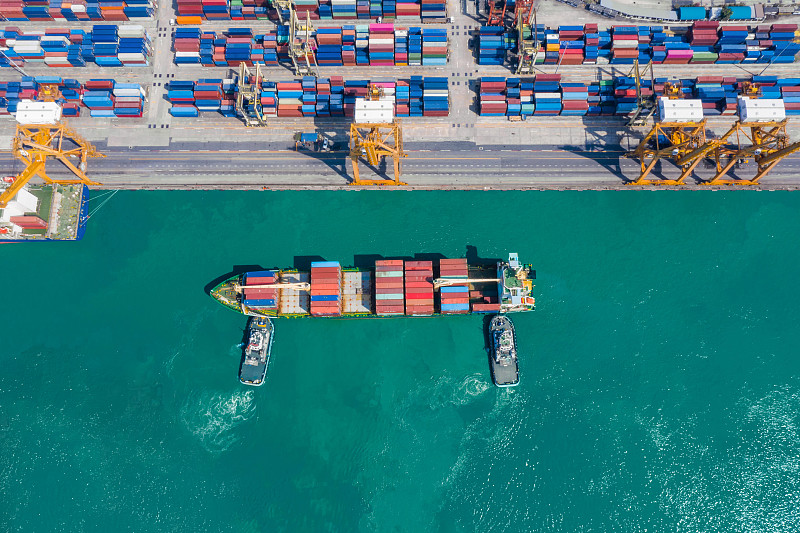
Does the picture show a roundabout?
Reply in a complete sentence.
No, there is no roundabout in the image.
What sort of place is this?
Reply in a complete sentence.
What you see here is a port.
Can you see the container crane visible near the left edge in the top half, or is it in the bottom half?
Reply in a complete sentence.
The top half of the photo is where the container crane visible near the left edge is.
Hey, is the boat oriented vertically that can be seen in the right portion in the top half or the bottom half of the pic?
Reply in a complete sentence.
The boat oriented vertically that can be seen in the right portion is in the bottom half of the image.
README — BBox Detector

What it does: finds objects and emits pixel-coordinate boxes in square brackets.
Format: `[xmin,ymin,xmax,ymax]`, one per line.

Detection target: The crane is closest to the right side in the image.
[704,84,800,183]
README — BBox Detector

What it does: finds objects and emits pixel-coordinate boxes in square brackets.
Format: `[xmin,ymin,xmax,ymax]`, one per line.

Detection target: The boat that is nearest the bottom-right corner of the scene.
[490,315,521,388]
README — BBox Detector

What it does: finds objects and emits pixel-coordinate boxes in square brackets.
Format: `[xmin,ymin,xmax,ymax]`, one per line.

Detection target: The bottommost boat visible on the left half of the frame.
[238,317,273,388]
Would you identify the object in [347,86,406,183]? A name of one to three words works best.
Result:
container crane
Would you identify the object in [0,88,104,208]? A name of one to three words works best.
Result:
container crane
